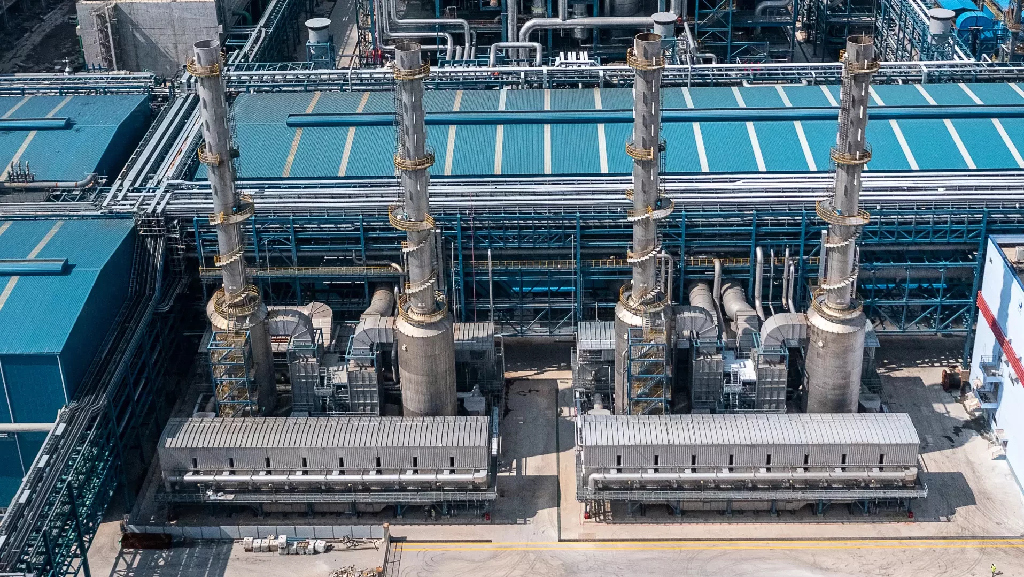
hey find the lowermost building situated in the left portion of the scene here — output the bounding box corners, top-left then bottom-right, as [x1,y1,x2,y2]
[150,412,506,520]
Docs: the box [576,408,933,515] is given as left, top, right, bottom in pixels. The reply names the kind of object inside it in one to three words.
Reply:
building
